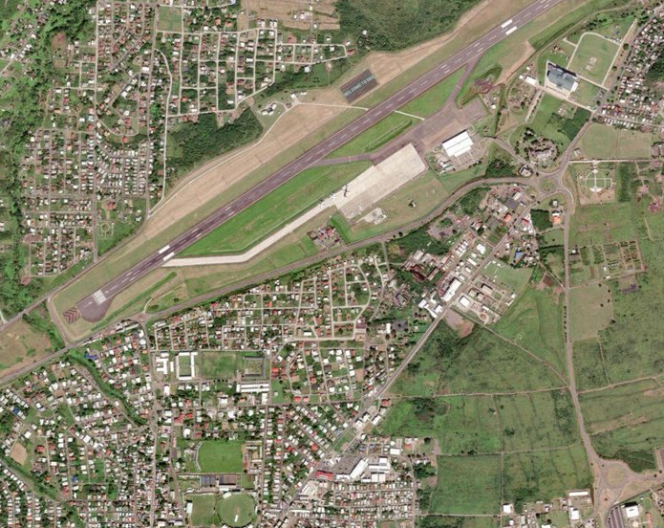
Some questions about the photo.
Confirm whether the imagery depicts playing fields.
Yes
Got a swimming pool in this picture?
No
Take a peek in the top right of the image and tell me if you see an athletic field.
Yes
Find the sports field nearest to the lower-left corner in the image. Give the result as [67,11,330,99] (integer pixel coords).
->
[189,493,214,526]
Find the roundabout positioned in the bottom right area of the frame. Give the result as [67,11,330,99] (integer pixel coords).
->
[601,461,632,490]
